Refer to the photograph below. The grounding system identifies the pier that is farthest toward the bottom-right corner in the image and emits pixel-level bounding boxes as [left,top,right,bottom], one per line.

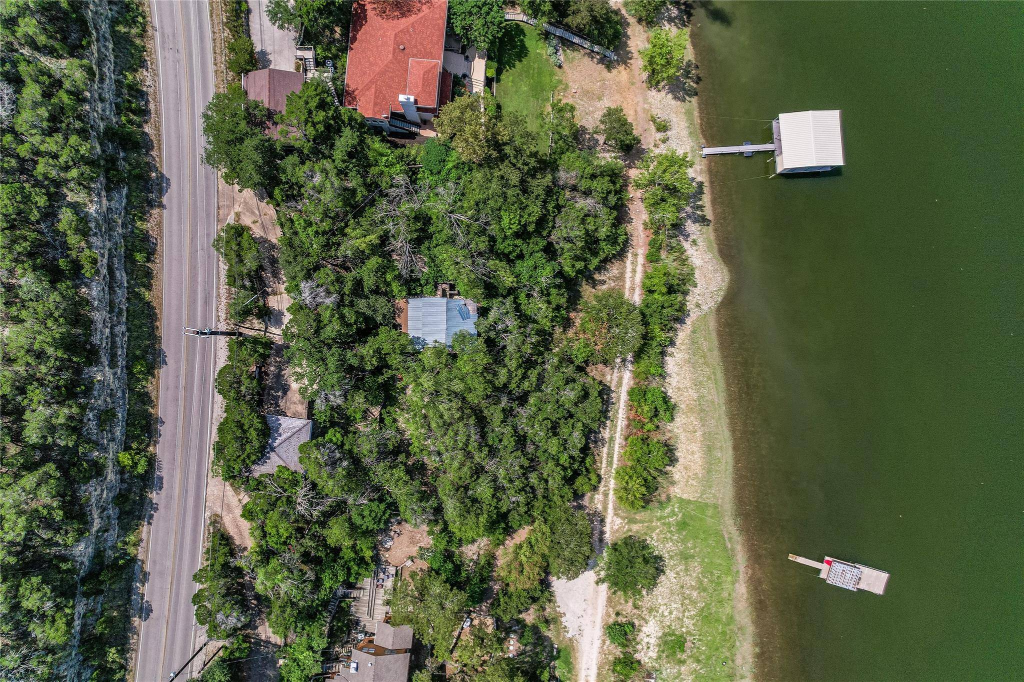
[788,554,891,595]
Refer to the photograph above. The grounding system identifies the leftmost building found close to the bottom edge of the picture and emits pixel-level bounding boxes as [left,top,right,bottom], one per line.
[330,612,415,682]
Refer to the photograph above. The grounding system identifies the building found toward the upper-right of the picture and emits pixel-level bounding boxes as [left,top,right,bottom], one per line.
[772,110,847,176]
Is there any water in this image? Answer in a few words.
Yes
